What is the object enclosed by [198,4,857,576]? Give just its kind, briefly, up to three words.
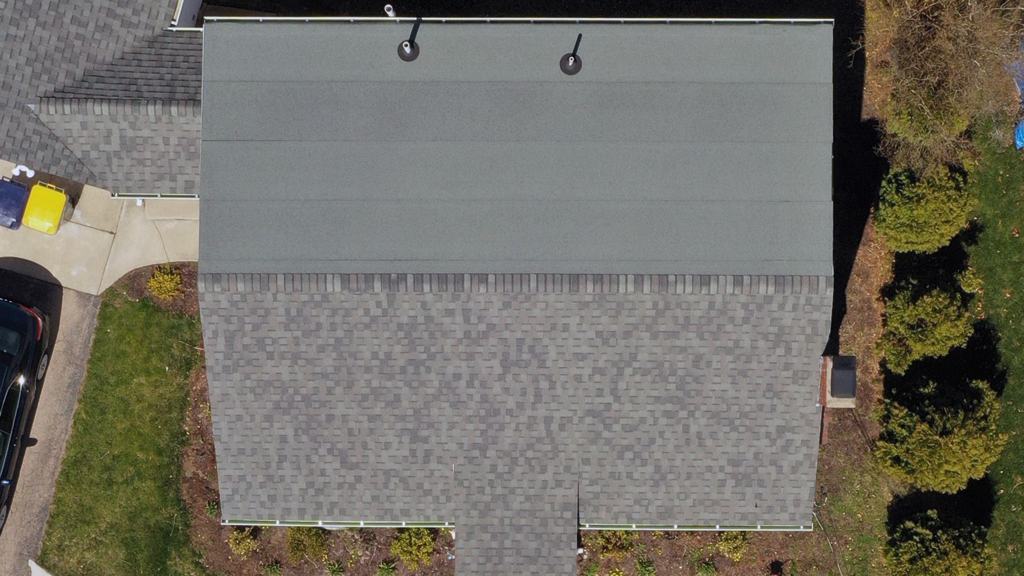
house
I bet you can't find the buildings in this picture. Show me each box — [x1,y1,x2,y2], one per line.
[0,0,209,191]
[198,4,857,576]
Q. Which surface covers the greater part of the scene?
buildings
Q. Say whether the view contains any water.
No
